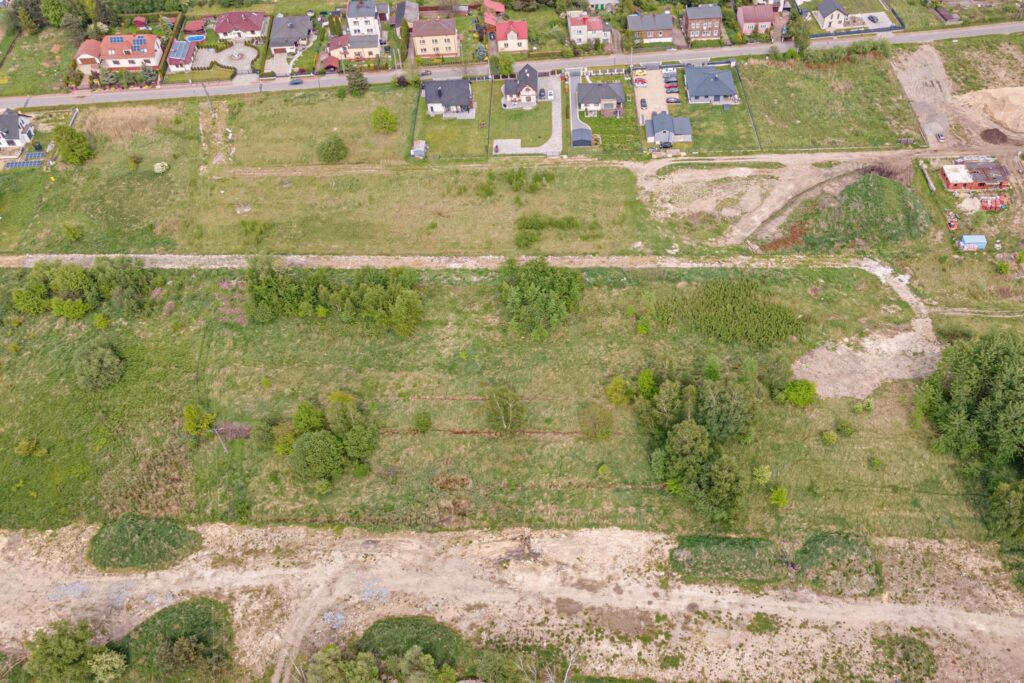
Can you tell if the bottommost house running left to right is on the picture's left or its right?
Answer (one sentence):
You can find the bottommost house running left to right on the right side of the picture.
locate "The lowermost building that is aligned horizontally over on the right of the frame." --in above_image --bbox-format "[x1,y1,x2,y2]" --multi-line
[939,158,1015,192]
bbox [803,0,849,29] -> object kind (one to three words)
house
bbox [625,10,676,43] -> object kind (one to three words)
house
